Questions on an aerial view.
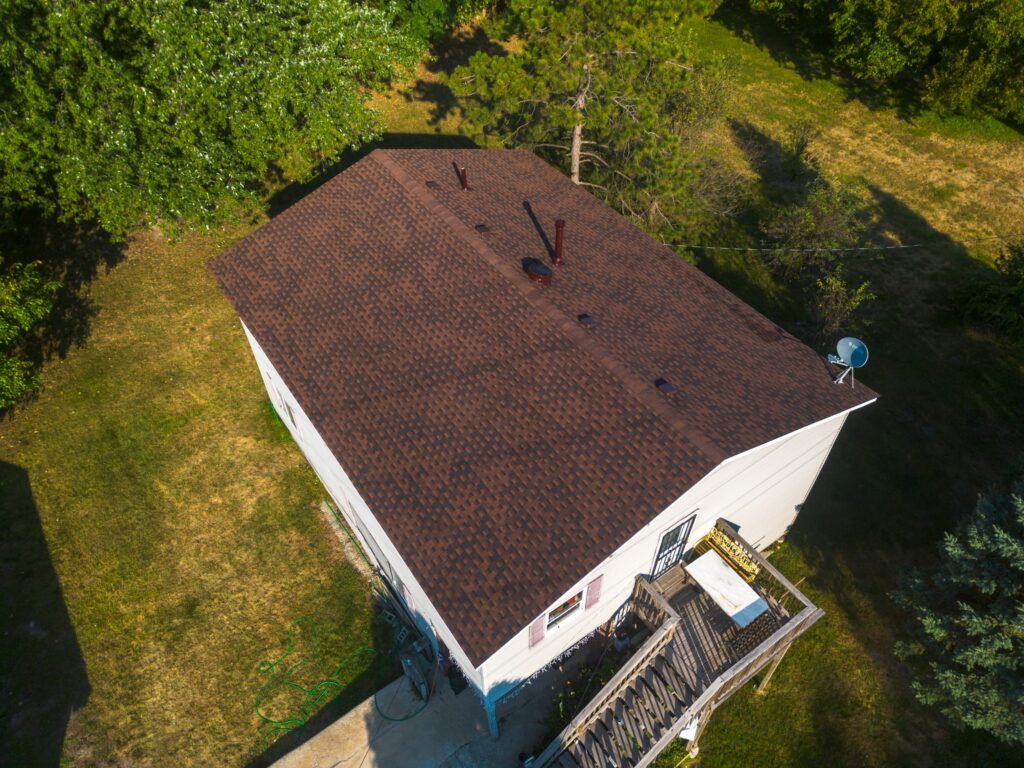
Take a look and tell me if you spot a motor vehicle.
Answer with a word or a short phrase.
No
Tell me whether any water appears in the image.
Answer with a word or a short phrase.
No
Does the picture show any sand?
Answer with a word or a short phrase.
No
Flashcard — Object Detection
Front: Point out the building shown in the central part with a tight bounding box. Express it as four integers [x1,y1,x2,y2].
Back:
[209,148,876,742]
